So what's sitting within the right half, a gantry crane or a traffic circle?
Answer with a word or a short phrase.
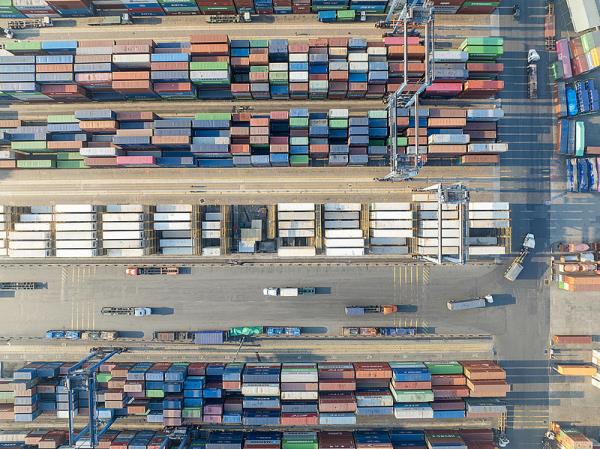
gantry crane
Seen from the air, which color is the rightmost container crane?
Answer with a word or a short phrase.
white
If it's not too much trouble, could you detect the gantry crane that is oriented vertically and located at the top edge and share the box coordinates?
[381,0,431,107]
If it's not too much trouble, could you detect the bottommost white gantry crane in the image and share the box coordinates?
[411,182,466,265]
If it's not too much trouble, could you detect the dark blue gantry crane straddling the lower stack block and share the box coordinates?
[67,347,130,449]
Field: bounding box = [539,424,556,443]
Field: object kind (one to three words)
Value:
vehicle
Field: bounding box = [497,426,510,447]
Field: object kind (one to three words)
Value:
vehicle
